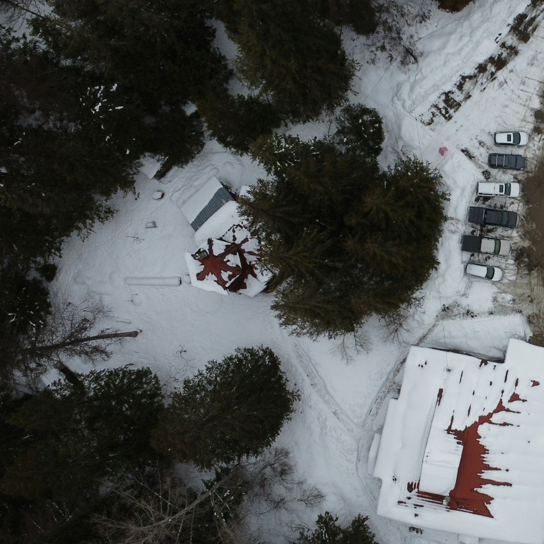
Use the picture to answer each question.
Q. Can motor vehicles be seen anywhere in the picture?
Yes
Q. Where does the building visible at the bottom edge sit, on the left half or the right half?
right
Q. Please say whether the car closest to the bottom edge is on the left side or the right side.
right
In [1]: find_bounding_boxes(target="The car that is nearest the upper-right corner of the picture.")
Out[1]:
[494,130,531,148]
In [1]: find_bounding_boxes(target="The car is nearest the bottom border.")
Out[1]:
[465,262,506,282]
